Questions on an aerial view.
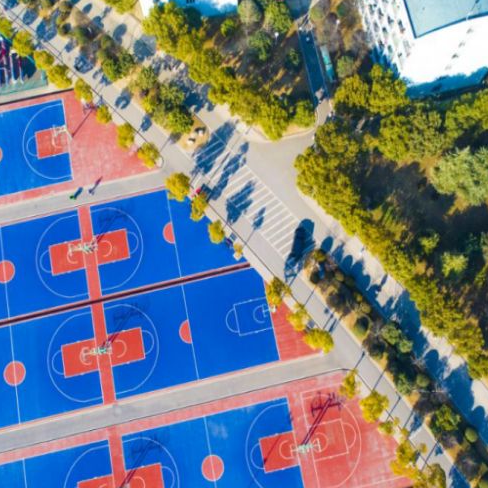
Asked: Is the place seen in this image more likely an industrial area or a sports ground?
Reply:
sports ground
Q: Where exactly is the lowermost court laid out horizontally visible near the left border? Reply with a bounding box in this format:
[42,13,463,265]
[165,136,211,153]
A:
[0,439,115,488]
